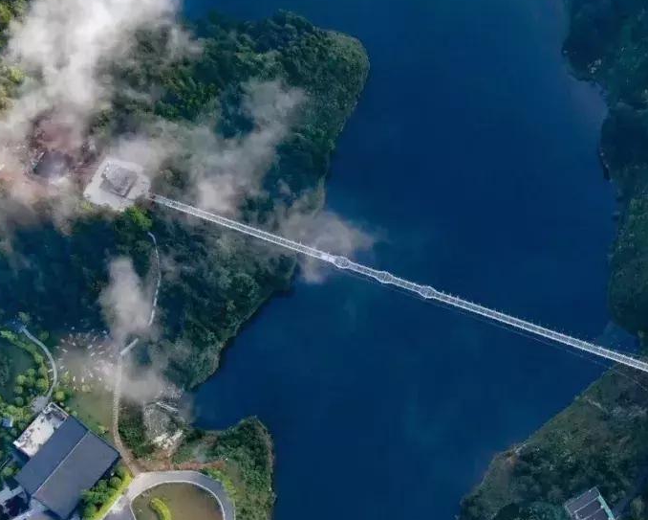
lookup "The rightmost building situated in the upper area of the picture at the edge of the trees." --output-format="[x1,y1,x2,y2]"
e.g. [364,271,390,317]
[99,165,138,198]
